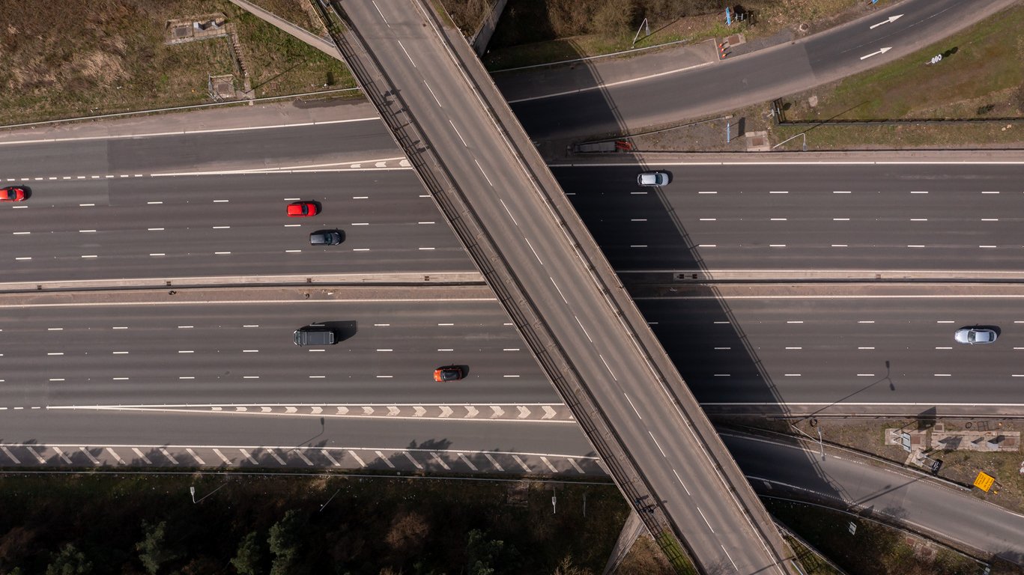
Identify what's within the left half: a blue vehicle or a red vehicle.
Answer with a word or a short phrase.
red vehicle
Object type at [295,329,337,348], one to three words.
vehicle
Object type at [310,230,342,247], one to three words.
car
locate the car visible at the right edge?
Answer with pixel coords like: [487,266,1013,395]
[955,328,996,346]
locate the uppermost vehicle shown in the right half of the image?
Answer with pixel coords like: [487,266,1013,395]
[637,171,670,188]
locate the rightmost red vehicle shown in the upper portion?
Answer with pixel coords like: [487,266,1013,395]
[288,201,318,218]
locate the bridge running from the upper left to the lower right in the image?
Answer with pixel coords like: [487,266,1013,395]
[304,0,809,575]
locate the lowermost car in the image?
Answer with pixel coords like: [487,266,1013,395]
[434,367,463,383]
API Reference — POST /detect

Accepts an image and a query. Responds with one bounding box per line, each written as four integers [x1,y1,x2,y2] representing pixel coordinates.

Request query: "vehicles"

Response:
[637,171,670,188]
[288,201,318,218]
[434,367,463,383]
[0,186,26,203]
[295,329,337,348]
[955,328,996,346]
[310,230,342,247]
